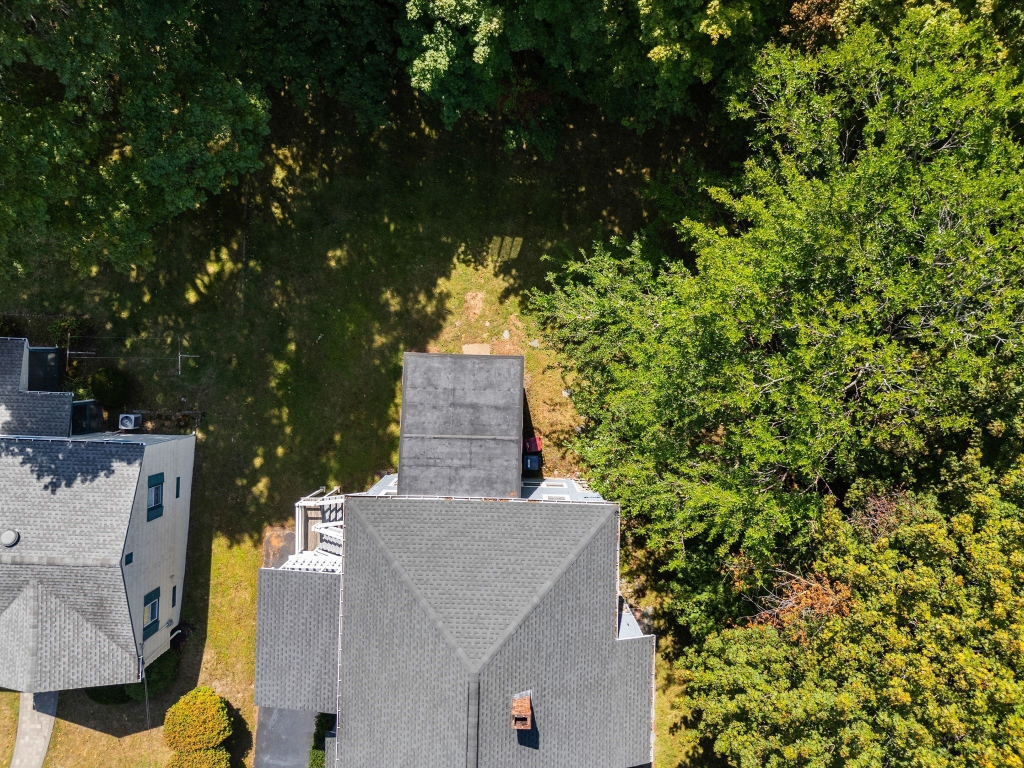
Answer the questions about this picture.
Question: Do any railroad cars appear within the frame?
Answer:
No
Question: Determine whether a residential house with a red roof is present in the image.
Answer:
No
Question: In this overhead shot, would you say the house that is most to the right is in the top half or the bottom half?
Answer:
bottom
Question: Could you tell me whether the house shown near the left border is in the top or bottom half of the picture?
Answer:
bottom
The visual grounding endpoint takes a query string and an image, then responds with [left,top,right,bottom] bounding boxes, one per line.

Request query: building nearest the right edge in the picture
[256,353,657,768]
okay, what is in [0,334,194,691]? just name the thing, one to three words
house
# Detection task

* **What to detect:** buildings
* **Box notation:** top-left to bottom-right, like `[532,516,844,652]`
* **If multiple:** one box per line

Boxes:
[256,353,657,768]
[0,334,194,691]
